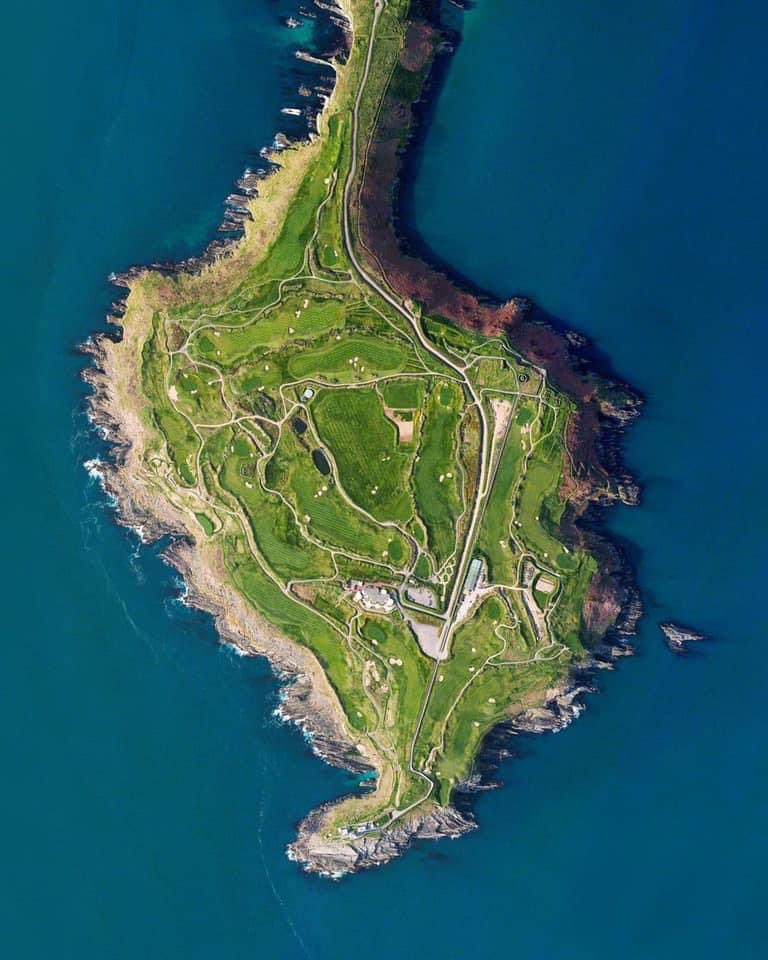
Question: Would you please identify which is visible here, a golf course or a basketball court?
golf course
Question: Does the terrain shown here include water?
Yes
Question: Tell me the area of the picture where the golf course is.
center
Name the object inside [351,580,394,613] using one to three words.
building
